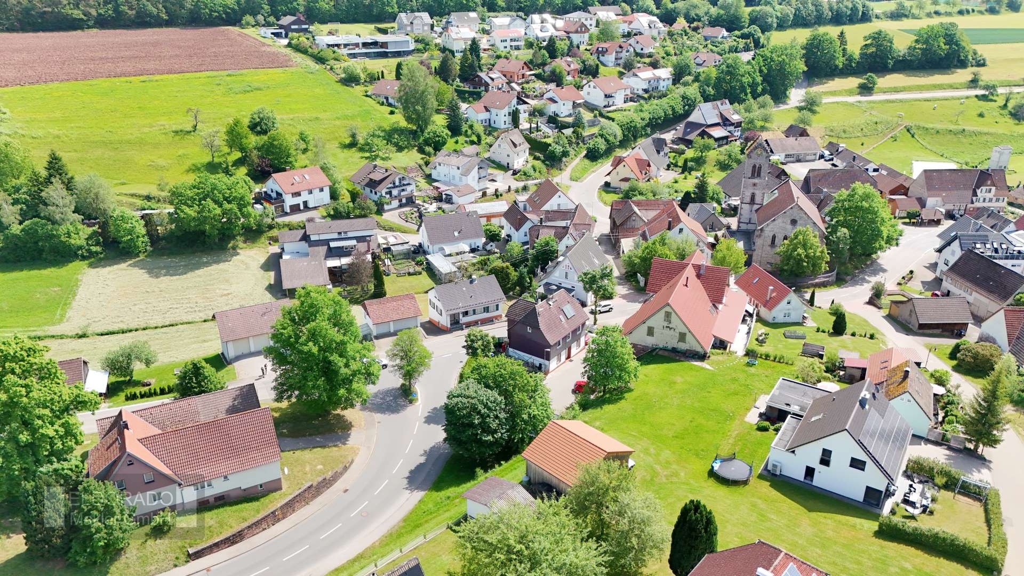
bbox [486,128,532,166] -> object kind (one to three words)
house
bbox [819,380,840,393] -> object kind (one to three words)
umbrella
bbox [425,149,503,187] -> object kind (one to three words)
house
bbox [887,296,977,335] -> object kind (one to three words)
shed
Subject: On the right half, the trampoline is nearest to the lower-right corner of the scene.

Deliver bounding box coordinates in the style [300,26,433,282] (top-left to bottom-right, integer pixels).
[711,447,754,483]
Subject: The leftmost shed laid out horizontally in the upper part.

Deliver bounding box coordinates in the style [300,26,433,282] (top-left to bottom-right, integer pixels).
[138,208,176,225]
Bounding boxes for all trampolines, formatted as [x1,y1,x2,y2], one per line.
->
[746,348,760,366]
[711,447,754,483]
